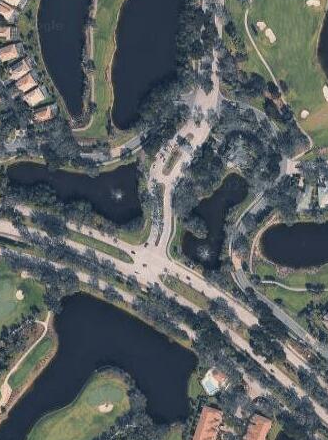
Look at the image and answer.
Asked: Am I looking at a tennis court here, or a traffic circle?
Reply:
traffic circle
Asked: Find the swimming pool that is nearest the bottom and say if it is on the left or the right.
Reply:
right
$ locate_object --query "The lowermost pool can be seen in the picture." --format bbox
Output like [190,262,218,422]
[202,368,226,395]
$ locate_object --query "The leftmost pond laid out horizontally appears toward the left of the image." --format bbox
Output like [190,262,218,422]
[7,162,143,225]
